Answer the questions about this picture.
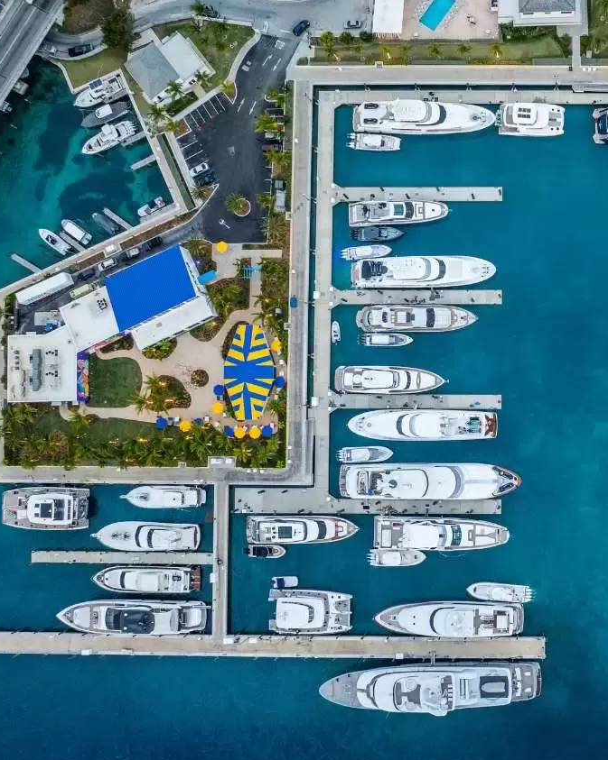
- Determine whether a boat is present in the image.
Yes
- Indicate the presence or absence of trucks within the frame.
Yes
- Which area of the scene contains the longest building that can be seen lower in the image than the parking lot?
left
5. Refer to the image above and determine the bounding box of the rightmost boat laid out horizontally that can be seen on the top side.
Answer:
[495,103,564,136]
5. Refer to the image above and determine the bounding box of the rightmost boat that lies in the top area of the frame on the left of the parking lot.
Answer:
[138,196,168,216]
